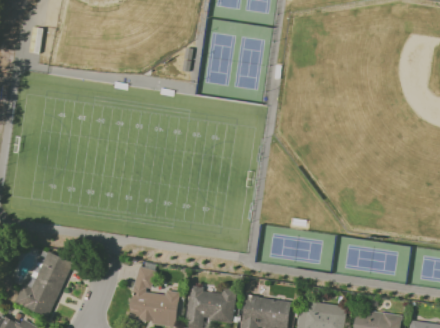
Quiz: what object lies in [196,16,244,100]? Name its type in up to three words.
tennis court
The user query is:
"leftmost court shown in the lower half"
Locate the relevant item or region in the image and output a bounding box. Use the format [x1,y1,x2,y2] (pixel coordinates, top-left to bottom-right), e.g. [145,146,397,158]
[257,224,337,273]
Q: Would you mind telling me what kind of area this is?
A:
sports ground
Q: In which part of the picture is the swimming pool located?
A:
bottom left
